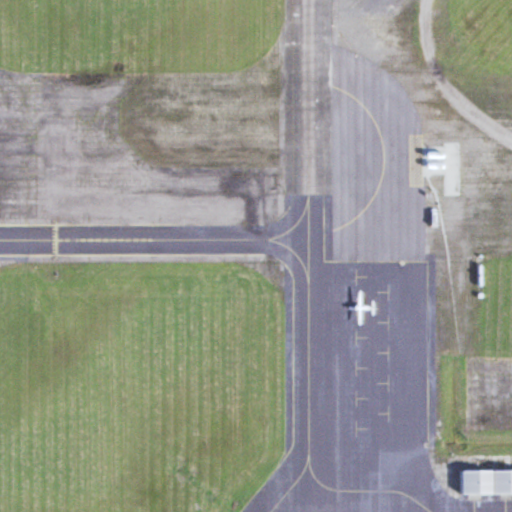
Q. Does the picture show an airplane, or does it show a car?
airplane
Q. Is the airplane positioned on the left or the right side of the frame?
right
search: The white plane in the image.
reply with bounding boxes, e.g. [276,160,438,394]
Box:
[348,290,377,326]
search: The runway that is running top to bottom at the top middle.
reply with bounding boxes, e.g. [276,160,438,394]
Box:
[286,0,332,196]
